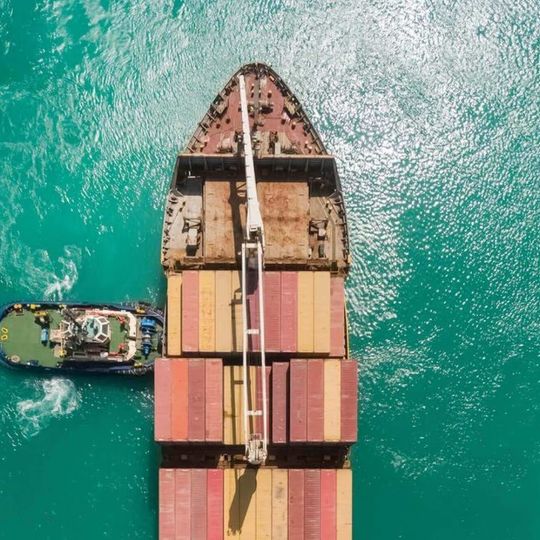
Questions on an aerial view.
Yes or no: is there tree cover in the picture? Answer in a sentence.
No, there's no tree cover in this view.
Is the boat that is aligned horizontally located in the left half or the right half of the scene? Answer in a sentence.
It is on the left.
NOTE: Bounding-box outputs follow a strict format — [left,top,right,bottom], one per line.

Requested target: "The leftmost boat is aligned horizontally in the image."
[0,300,161,377]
